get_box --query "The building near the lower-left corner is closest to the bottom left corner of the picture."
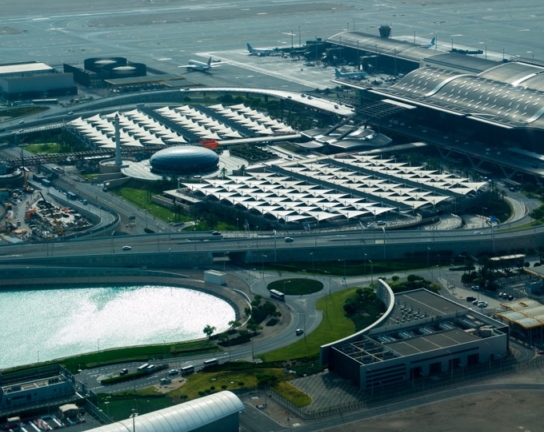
[0,374,71,410]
